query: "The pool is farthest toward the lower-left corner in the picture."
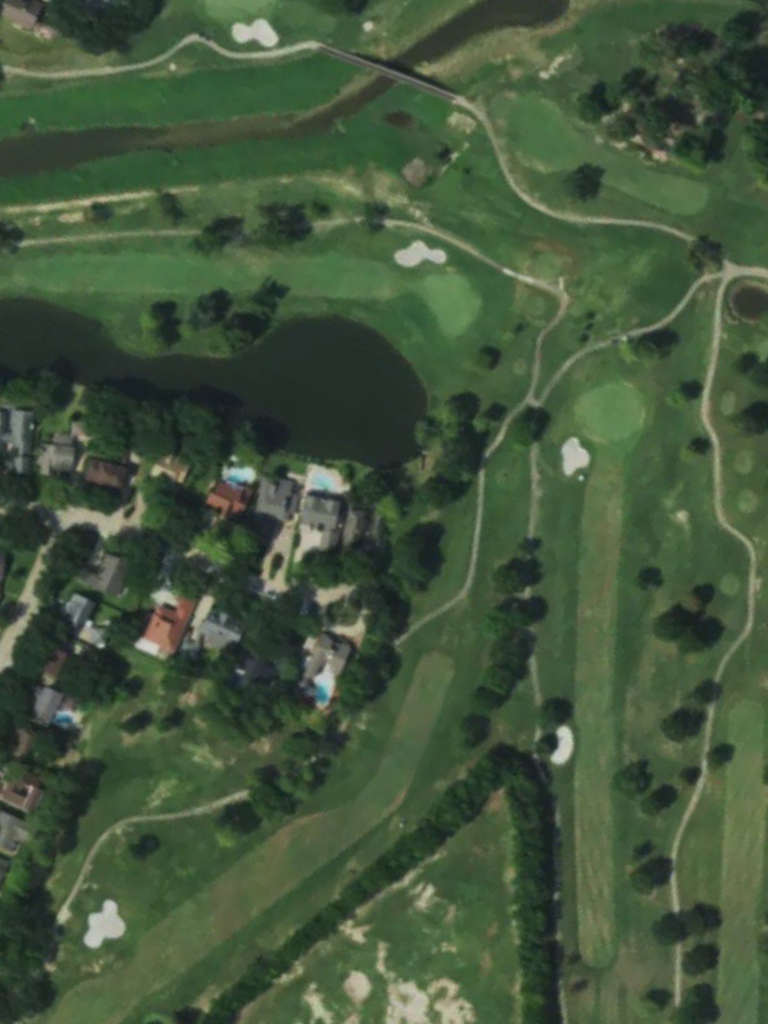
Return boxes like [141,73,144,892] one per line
[56,709,83,727]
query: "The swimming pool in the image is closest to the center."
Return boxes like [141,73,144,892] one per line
[305,464,349,493]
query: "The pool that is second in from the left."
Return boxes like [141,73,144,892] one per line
[223,466,256,485]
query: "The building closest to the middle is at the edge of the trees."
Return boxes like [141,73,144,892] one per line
[342,502,383,545]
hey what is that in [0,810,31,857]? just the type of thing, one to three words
house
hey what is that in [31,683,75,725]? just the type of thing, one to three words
house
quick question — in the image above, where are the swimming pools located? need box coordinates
[56,709,83,727]
[223,466,256,485]
[305,464,349,493]
[313,665,336,707]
